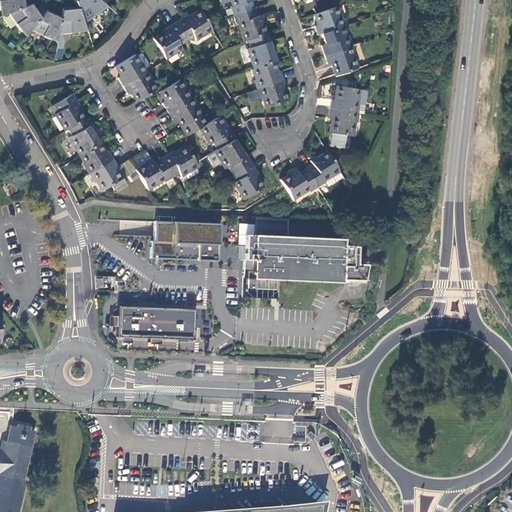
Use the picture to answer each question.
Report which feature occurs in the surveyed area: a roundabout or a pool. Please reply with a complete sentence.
Looking from above, you can make out a roundabout.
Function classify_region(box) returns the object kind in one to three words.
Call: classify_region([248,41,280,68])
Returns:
house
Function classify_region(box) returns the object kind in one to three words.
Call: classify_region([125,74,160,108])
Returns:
house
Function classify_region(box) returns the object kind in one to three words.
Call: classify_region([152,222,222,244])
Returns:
building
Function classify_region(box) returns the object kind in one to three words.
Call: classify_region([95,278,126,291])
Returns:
shed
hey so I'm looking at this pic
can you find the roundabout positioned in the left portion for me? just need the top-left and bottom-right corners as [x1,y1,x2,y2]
[44,338,112,402]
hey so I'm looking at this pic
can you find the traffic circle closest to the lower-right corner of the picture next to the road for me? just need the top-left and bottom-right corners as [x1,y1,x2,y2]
[314,290,512,512]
